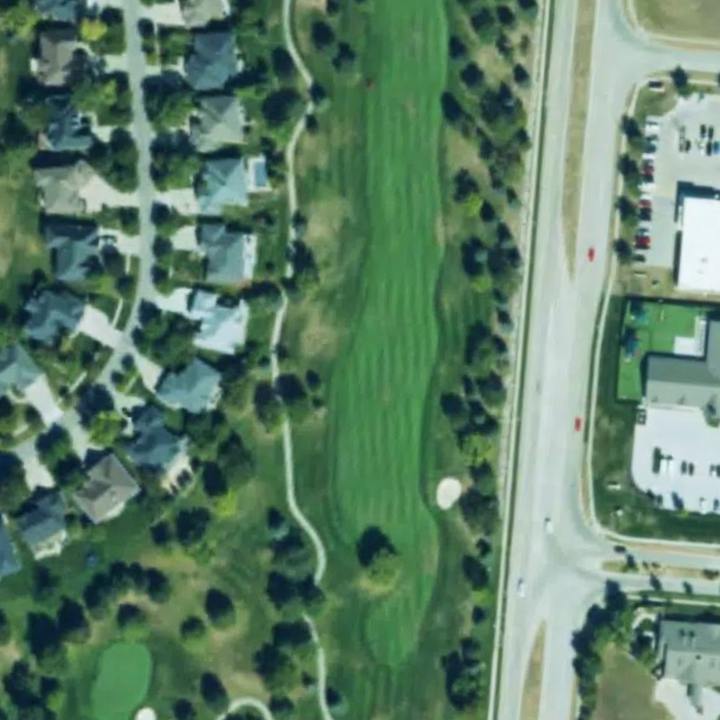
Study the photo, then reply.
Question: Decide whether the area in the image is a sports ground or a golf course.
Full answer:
The picture captures a golf course.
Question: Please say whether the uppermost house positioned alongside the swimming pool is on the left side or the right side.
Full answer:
It is on the left.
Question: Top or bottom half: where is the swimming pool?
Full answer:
The swimming pool is in the top half of the image.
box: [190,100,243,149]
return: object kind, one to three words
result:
house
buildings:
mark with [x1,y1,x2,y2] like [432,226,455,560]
[122,408,186,472]
[190,290,246,353]
[190,100,243,149]
[38,31,83,86]
[0,345,44,402]
[159,360,221,414]
[74,459,139,522]
[184,32,237,93]
[676,197,720,292]
[45,224,100,280]
[20,288,86,348]
[0,516,19,570]
[46,106,92,153]
[647,317,720,422]
[38,162,104,217]
[179,0,226,24]
[195,159,248,213]
[13,488,68,540]
[199,222,249,283]
[660,621,720,715]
